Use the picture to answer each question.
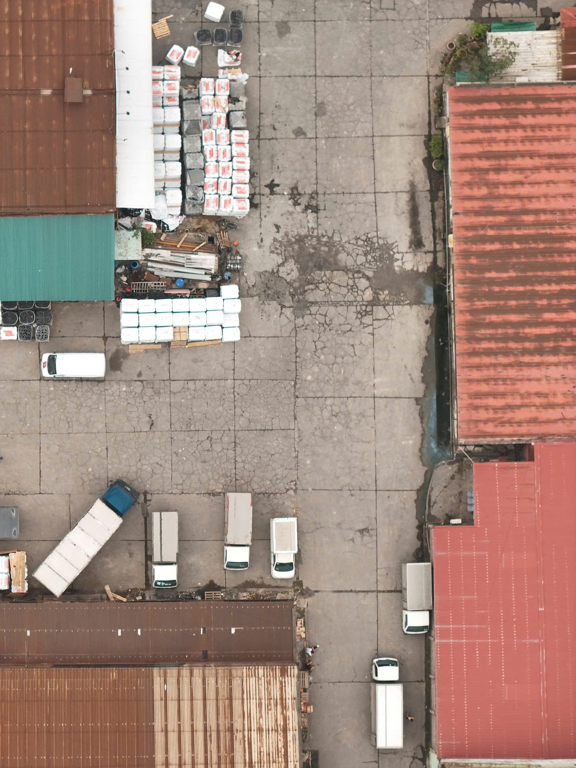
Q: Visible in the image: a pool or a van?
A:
van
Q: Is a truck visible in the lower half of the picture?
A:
Yes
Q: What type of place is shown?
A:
industrial area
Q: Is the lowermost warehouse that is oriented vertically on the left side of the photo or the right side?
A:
right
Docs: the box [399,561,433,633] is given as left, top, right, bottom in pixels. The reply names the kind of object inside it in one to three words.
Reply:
truck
